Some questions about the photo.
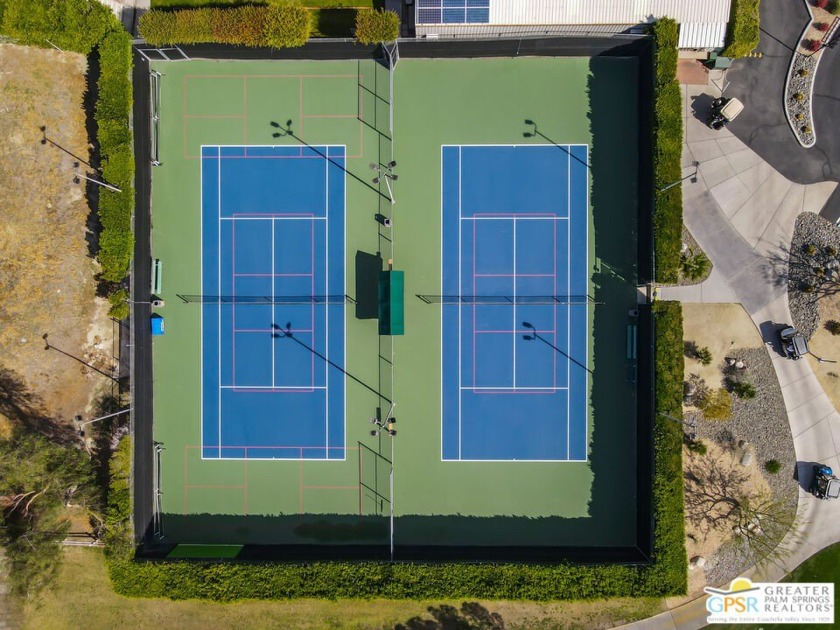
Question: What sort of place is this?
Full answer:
It's a sports ground.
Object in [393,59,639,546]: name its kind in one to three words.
tennis court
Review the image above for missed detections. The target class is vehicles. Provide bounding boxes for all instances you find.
[706,98,743,134]
[808,465,840,500]
[773,328,806,362]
